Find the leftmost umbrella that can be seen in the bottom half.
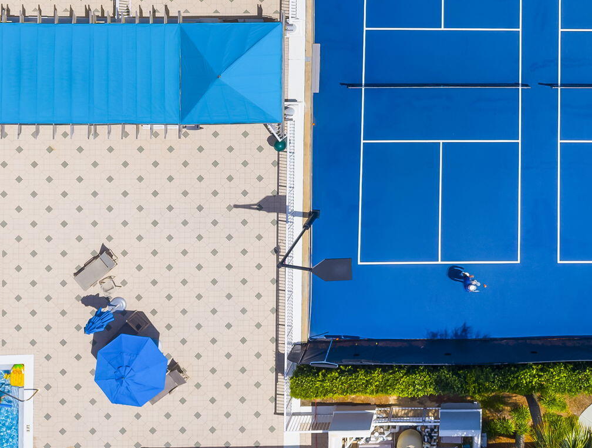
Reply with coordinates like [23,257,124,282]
[87,295,126,332]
